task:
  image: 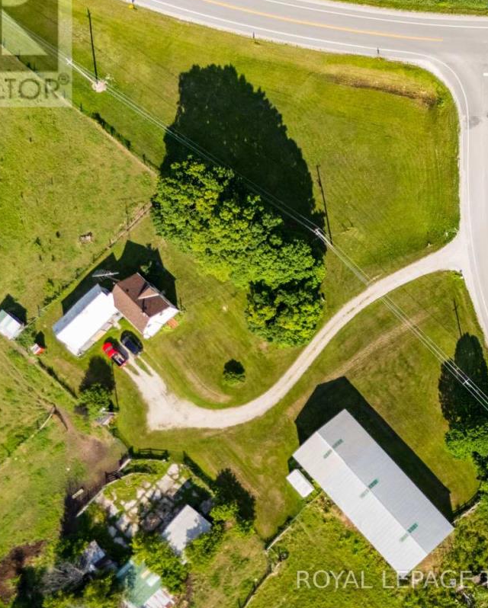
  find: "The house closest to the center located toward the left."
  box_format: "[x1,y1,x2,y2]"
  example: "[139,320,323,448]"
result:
[111,274,187,333]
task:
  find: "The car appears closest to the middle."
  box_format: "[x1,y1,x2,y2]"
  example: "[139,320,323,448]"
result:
[120,331,144,357]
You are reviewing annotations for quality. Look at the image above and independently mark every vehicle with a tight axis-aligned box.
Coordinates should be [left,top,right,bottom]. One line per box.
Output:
[101,340,129,370]
[120,331,144,357]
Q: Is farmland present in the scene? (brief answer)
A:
Yes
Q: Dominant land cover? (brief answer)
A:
grass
